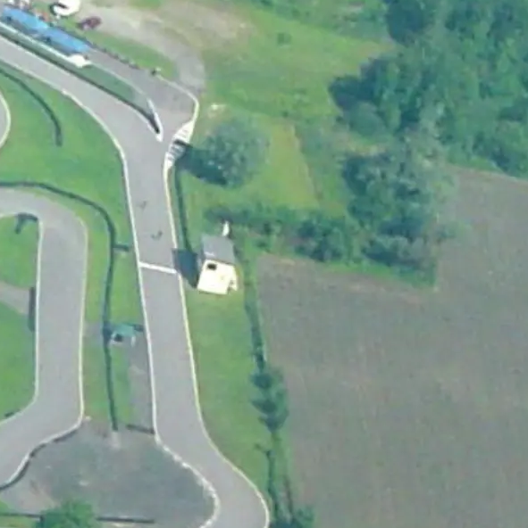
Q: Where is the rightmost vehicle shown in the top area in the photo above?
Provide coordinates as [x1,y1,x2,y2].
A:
[80,14,104,28]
